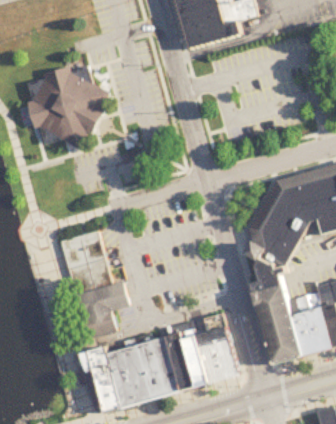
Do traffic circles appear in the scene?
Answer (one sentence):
No, there isn't any traffic circle down there.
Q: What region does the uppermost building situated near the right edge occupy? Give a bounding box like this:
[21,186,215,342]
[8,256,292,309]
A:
[250,163,336,270]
